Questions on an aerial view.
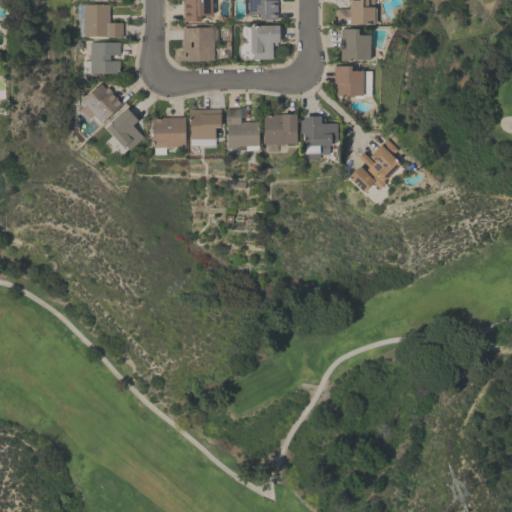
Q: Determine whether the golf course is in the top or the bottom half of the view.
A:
bottom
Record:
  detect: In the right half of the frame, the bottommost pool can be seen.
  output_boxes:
[402,174,424,186]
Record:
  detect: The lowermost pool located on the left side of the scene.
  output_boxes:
[80,115,100,138]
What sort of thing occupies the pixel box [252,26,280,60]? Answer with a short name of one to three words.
house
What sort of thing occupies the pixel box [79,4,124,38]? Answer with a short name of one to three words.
house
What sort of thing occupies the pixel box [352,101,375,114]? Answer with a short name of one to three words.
swimming pool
